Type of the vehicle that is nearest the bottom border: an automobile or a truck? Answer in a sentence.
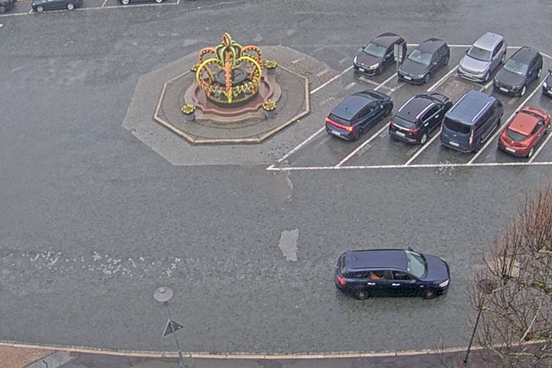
I'd say the vehicle that is nearest the bottom border is an automobile.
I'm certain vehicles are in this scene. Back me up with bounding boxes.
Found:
[495,103,552,161]
[334,253,453,309]
[320,86,400,146]
[457,29,514,82]
[492,41,548,96]
[540,66,552,97]
[398,35,457,85]
[351,27,415,76]
[27,0,86,12]
[386,87,459,147]
[436,89,513,158]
